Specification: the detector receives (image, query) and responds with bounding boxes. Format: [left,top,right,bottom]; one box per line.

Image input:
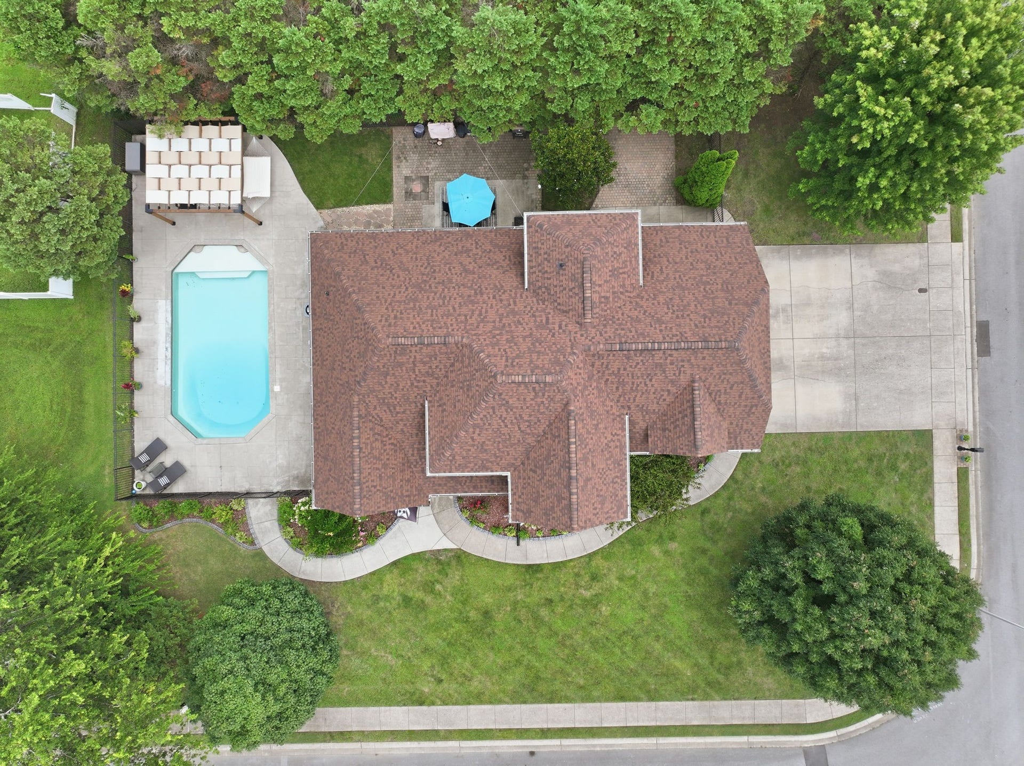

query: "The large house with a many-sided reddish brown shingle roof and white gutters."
[307,208,774,537]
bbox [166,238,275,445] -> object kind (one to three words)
swimming pool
